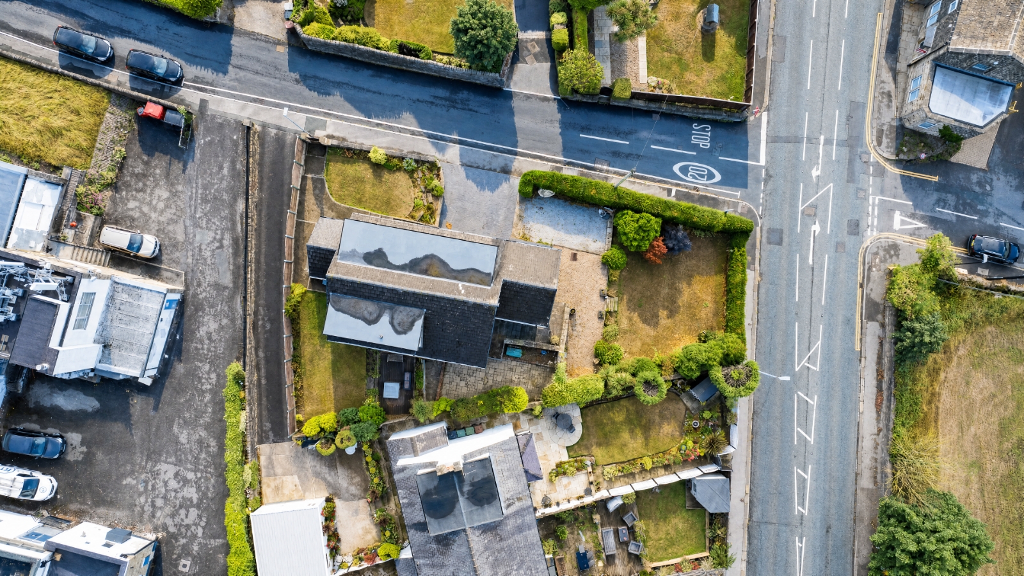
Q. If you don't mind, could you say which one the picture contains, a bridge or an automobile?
automobile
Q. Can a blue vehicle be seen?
Yes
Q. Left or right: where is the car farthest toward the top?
left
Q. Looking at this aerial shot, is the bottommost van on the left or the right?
left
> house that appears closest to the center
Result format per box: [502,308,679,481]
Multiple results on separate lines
[307,212,561,368]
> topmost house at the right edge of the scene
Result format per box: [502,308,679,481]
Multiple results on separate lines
[898,0,1024,137]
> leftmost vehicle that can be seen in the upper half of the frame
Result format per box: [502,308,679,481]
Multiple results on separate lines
[49,22,121,66]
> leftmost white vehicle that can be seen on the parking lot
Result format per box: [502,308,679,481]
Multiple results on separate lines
[0,461,64,501]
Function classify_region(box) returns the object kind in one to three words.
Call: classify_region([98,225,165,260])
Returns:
car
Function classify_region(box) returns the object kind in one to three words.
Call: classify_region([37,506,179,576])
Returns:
building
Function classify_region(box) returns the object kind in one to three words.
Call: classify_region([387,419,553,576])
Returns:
house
